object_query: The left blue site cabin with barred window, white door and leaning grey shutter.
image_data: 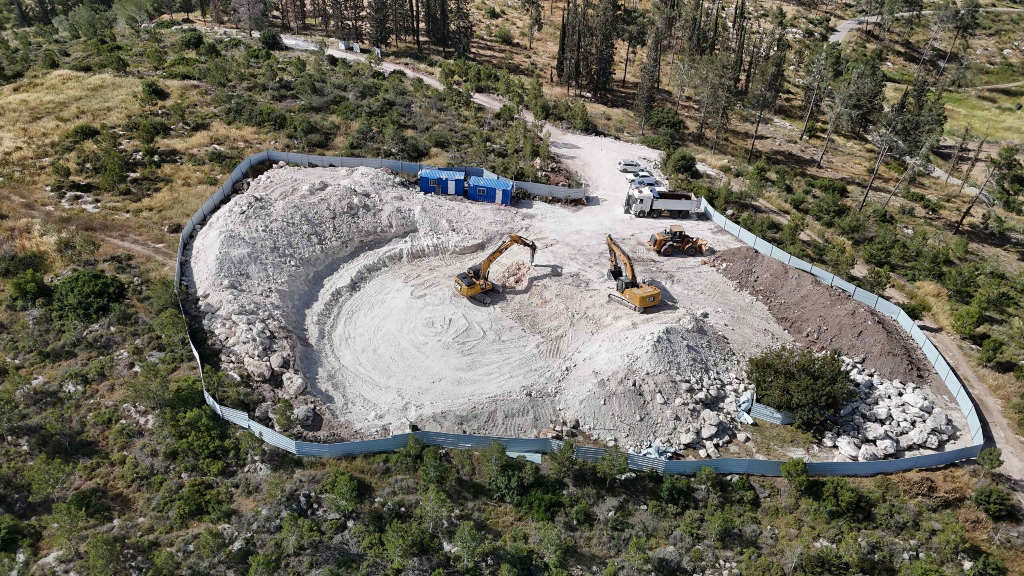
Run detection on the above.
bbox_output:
[417,168,467,197]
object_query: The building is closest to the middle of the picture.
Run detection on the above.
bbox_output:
[466,175,516,207]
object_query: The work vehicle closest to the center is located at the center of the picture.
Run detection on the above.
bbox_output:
[453,235,538,306]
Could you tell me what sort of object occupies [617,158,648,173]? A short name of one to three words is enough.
car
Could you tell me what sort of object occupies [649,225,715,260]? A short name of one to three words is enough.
work vehicle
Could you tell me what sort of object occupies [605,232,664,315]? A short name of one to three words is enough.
work vehicle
